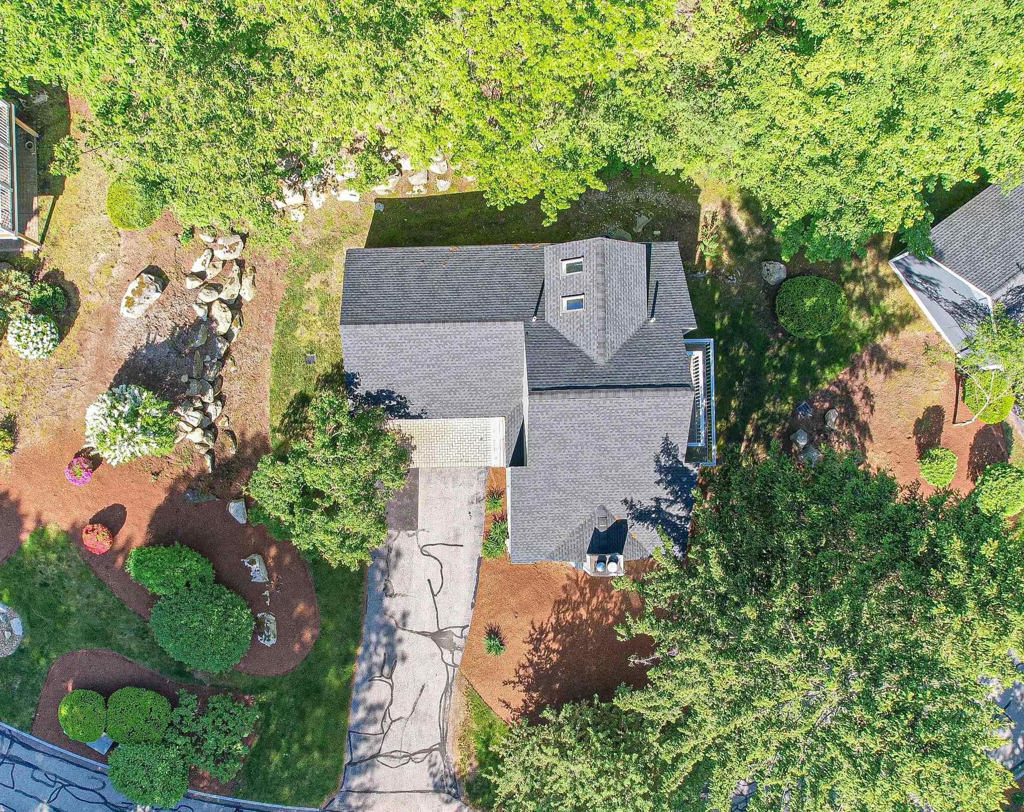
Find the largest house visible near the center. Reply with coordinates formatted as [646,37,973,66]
[340,237,702,578]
